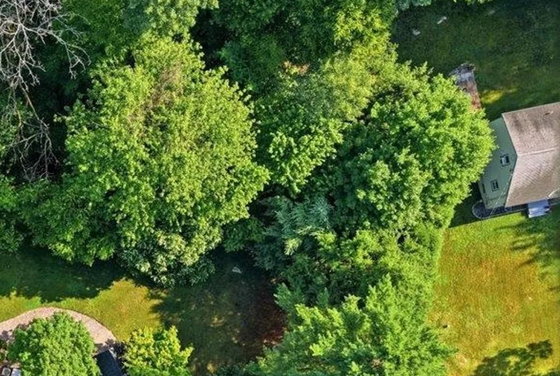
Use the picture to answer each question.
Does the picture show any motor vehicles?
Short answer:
No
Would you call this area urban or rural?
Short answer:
rural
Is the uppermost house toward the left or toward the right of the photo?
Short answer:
right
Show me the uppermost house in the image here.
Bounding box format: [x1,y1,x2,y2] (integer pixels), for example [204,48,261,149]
[476,104,560,210]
